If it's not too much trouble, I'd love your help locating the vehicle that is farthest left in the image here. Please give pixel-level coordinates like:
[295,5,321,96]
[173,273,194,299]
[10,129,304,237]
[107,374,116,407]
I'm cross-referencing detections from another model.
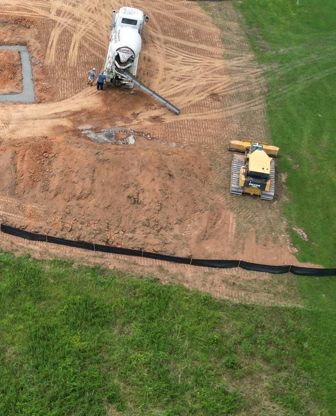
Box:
[107,3,181,116]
